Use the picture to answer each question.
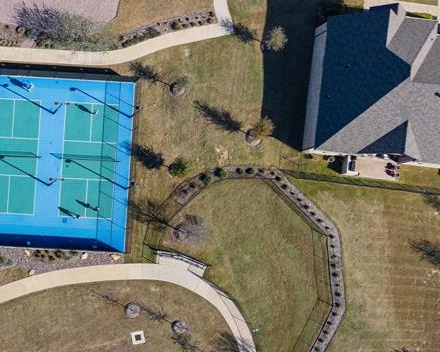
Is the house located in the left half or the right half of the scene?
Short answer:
right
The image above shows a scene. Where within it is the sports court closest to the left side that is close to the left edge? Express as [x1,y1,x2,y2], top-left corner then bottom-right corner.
[0,98,42,215]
